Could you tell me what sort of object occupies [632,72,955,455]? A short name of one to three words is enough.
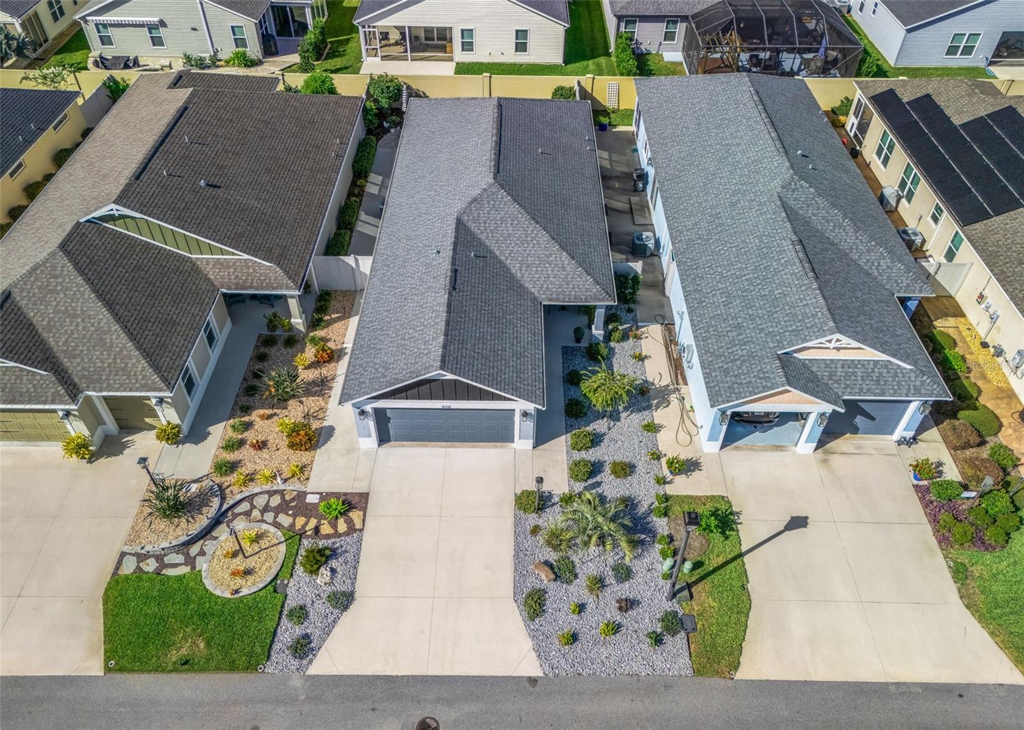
house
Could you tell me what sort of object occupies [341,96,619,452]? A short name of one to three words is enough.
house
